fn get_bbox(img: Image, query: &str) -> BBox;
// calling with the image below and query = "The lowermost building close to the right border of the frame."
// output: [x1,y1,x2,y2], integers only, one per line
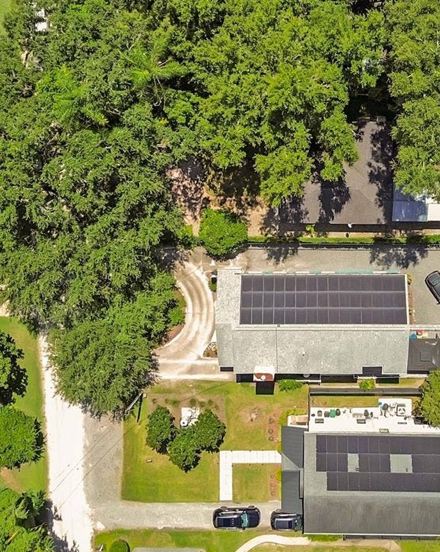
[282,417,440,535]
